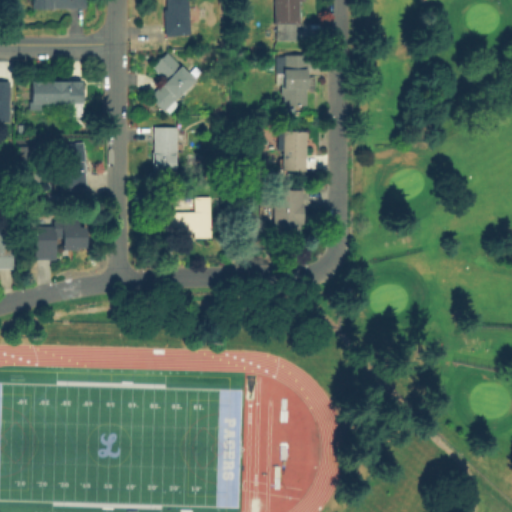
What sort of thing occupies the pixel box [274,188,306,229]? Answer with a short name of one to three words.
house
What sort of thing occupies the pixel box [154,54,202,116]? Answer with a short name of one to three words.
house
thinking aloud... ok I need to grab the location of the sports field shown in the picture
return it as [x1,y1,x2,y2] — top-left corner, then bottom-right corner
[0,367,244,512]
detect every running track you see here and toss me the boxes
[0,345,344,512]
